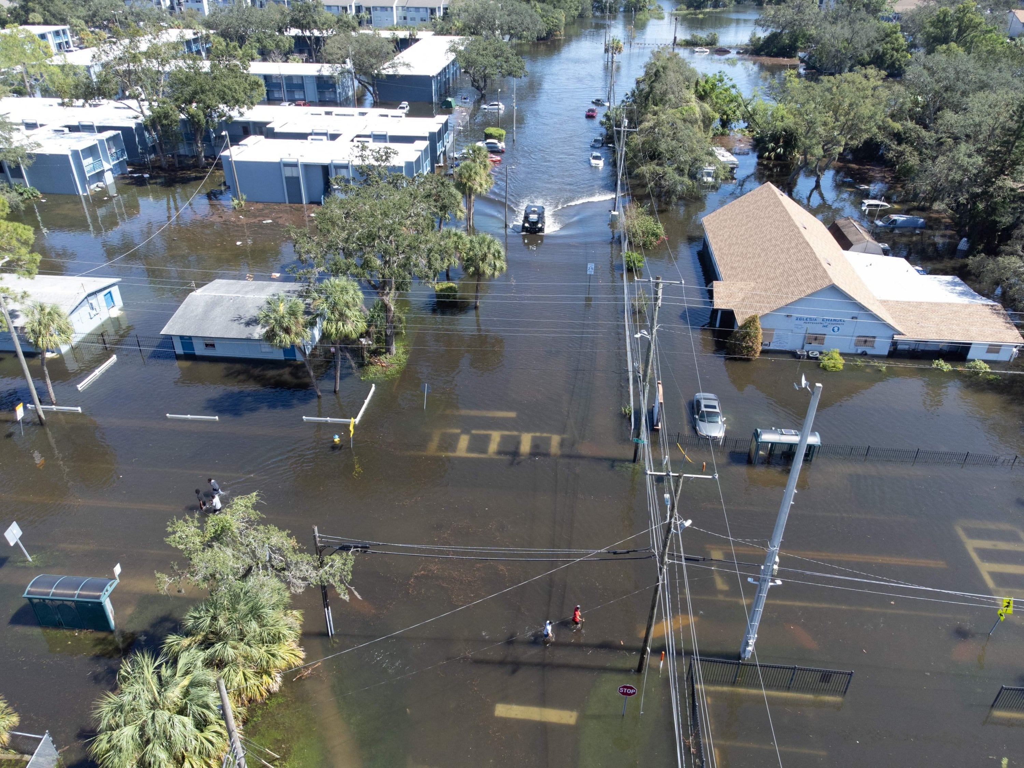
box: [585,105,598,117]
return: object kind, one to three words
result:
vehicle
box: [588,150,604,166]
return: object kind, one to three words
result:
car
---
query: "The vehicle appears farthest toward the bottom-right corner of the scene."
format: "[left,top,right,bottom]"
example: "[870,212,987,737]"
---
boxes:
[692,395,728,442]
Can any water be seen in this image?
Yes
